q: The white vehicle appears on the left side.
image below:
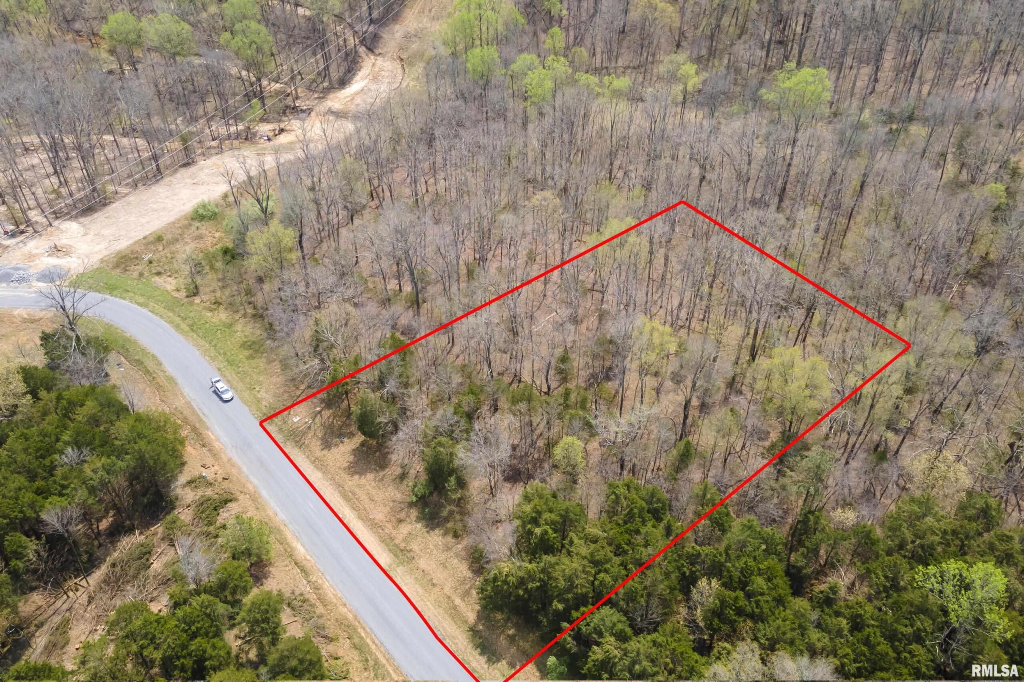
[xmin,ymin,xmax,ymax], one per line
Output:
[208,376,234,399]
